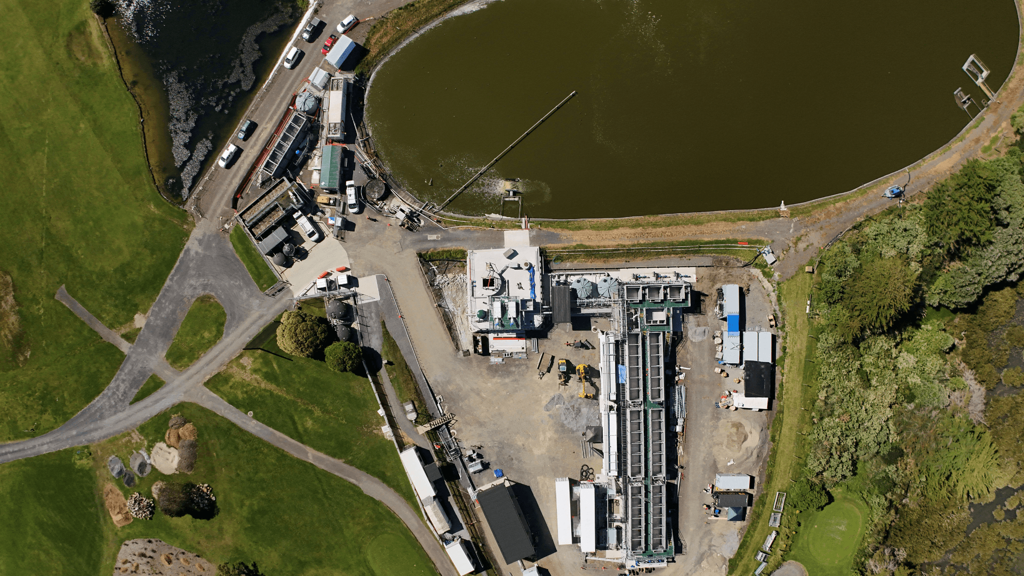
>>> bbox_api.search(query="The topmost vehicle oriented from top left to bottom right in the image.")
[292,211,319,242]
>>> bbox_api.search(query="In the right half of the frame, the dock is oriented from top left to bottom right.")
[961,55,999,99]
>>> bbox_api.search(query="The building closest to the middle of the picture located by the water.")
[388,198,423,237]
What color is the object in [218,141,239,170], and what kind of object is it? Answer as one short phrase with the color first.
white truck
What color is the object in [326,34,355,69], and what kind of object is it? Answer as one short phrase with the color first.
white shipping container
